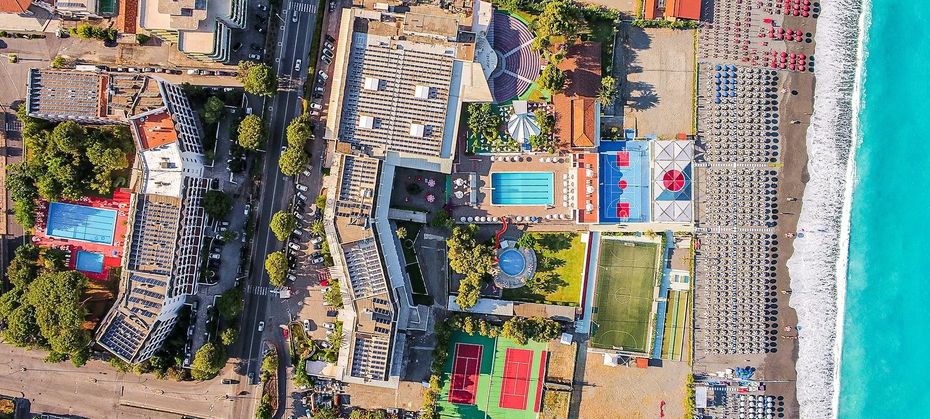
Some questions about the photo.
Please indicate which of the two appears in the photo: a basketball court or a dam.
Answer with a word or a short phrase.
basketball court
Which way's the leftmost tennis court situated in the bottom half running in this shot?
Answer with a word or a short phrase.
vertically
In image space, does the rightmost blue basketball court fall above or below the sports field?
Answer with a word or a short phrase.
above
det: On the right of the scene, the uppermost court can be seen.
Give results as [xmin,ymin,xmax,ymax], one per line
[599,141,650,223]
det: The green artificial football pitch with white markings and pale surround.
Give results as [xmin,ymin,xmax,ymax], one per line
[589,234,665,356]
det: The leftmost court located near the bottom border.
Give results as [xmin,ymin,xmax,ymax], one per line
[449,343,483,404]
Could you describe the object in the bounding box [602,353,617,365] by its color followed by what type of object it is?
white gazebo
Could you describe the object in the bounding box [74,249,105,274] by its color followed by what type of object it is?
blue swimming pool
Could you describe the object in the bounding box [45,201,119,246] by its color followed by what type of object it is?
blue swimming pool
